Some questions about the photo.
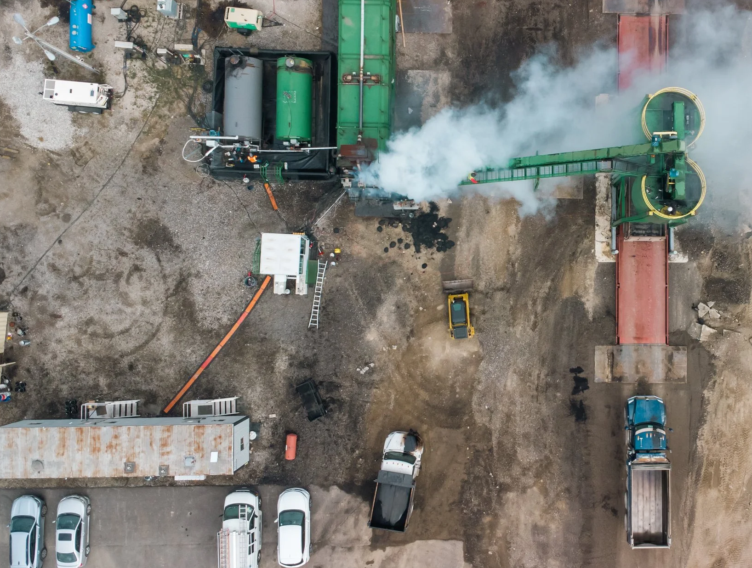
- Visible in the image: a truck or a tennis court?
truck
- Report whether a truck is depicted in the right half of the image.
Yes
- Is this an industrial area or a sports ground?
industrial area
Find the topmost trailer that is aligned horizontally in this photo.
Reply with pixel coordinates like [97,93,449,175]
[226,8,288,35]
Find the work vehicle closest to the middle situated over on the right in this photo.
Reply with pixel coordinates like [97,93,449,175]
[442,277,477,342]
